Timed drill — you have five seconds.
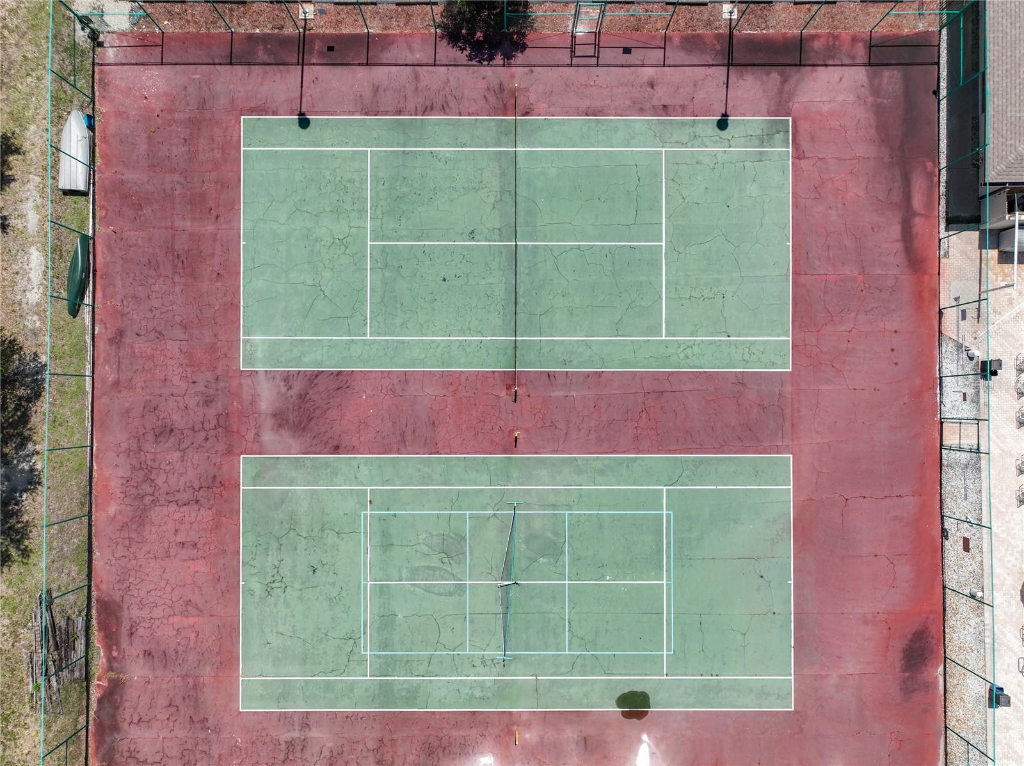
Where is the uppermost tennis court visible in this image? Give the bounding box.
[241,116,792,371]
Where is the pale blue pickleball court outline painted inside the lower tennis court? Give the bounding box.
[362,512,673,654]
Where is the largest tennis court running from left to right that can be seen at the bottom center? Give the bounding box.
[240,455,794,711]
